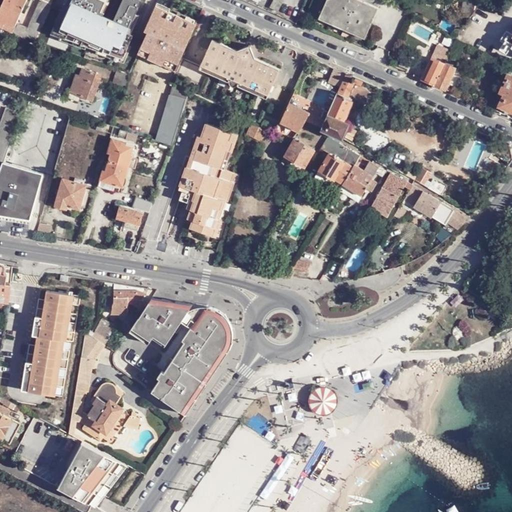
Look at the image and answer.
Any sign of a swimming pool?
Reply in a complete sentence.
Yes, the frame does contain a swimming pool.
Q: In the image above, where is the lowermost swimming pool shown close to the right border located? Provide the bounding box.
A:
[460,138,488,172]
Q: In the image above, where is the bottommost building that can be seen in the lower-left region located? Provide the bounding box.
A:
[58,440,127,508]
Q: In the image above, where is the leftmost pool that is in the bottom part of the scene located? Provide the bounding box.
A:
[132,428,154,455]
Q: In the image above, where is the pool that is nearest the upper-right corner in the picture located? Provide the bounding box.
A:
[437,18,456,34]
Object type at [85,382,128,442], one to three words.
house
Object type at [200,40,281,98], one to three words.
building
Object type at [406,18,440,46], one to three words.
swimming pool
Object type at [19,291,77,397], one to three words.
building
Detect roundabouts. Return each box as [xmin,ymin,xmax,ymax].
[262,308,298,344]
